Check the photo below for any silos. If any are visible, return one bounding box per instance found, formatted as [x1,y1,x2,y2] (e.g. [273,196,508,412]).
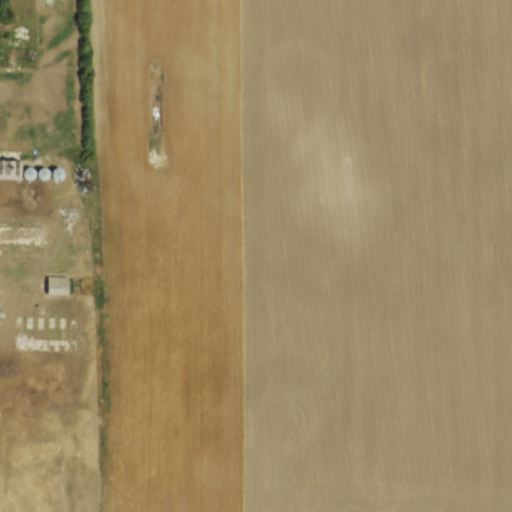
[24,168,38,182]
[38,168,52,182]
[52,168,66,184]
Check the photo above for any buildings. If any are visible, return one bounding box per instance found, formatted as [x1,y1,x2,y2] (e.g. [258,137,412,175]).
[48,276,70,295]
[0,160,20,176]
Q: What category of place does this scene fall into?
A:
farmland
